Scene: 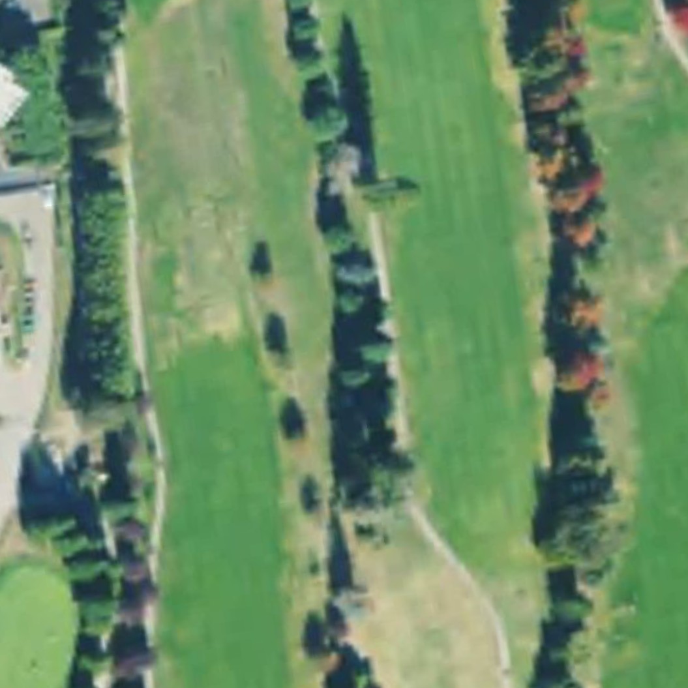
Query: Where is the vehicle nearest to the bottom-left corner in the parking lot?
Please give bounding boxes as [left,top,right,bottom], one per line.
[14,348,32,362]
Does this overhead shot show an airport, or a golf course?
golf course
